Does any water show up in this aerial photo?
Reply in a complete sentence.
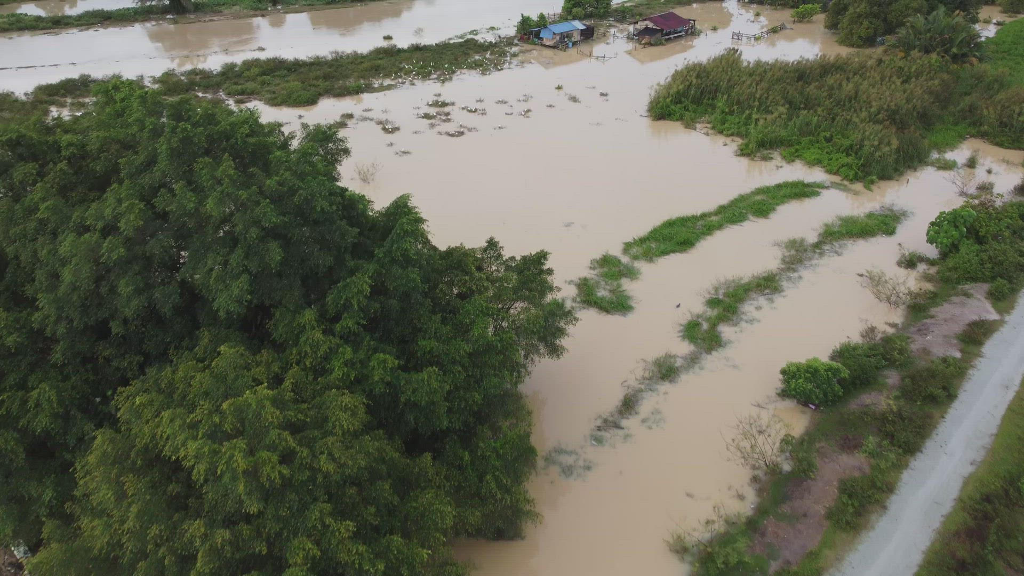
Yes, water can be seen from above here.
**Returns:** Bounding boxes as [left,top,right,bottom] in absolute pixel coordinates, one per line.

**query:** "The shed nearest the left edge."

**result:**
[516,20,595,48]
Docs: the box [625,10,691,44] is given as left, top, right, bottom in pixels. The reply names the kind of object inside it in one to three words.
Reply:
shed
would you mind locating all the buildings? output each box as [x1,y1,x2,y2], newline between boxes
[516,20,595,48]
[625,10,691,44]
